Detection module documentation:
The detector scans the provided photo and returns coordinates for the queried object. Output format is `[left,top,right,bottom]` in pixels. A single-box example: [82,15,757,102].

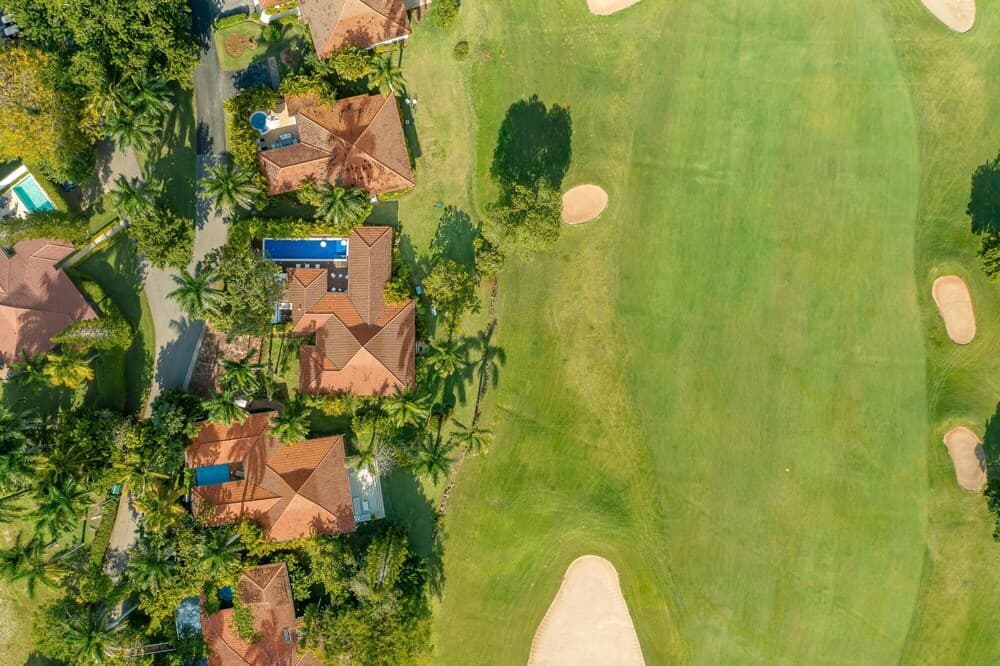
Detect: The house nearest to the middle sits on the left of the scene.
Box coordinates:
[261,227,415,395]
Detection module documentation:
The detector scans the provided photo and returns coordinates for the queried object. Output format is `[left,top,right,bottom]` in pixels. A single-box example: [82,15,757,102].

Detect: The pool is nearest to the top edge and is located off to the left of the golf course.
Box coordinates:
[250,111,269,133]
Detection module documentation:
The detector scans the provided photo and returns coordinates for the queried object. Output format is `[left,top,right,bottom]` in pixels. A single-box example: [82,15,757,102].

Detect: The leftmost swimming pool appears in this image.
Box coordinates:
[10,172,57,226]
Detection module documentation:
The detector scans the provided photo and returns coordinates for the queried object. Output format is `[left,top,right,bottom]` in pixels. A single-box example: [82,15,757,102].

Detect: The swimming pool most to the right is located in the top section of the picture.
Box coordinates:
[264,238,348,261]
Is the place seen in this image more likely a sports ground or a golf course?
golf course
